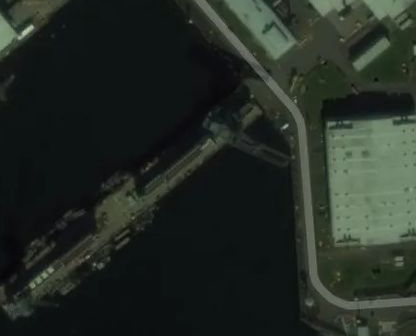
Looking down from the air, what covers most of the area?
water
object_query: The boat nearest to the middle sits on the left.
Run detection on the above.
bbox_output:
[139,158,158,173]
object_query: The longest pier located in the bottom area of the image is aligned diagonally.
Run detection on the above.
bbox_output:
[10,135,241,317]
